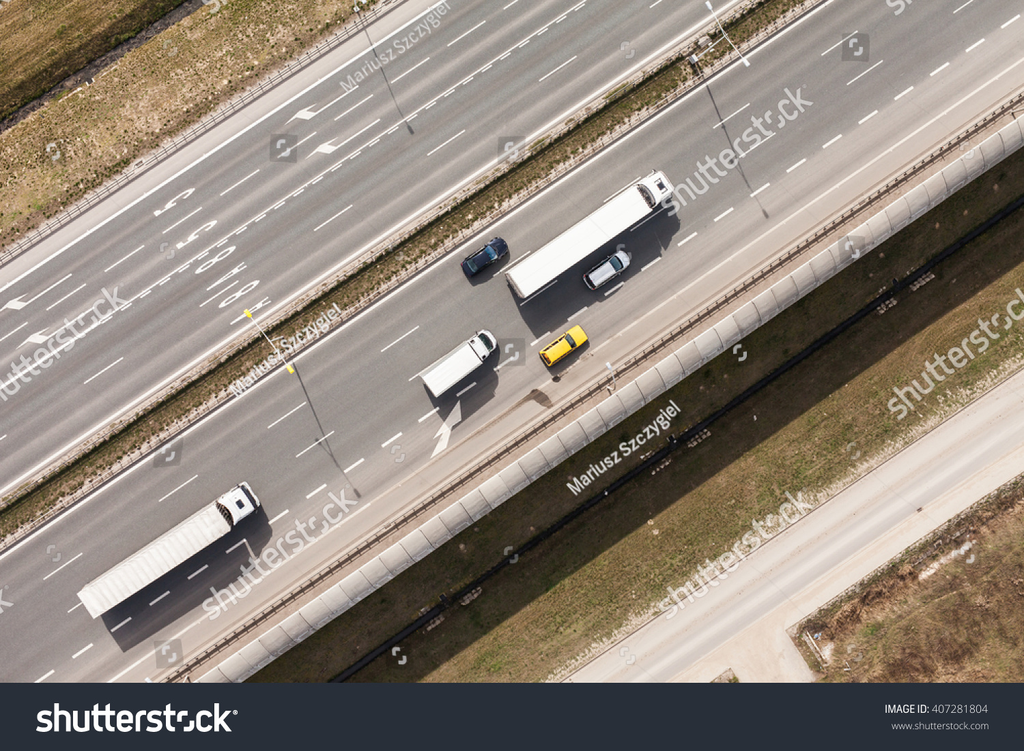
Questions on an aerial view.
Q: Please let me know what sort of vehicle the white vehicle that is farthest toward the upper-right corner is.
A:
truck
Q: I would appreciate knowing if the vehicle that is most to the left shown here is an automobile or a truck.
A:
truck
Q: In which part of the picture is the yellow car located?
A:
center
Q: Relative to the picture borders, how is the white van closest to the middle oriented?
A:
diagonally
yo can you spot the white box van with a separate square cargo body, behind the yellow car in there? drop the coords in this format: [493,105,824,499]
[422,330,499,397]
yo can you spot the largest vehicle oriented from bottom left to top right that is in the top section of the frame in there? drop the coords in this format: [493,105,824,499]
[503,166,676,298]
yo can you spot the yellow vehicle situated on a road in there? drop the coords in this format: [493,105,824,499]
[538,325,588,367]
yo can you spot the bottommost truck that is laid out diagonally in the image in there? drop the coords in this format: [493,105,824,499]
[77,480,266,619]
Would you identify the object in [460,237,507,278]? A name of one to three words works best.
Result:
car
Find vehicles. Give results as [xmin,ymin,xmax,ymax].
[422,330,499,397]
[503,166,676,298]
[460,237,507,278]
[538,325,588,367]
[77,480,266,619]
